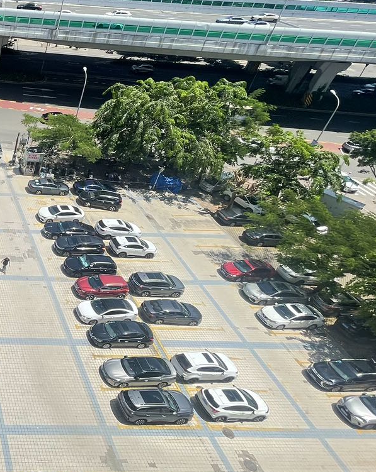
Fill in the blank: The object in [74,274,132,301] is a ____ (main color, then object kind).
red car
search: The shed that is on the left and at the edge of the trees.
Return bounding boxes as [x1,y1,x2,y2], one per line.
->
[20,147,44,175]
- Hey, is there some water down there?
No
